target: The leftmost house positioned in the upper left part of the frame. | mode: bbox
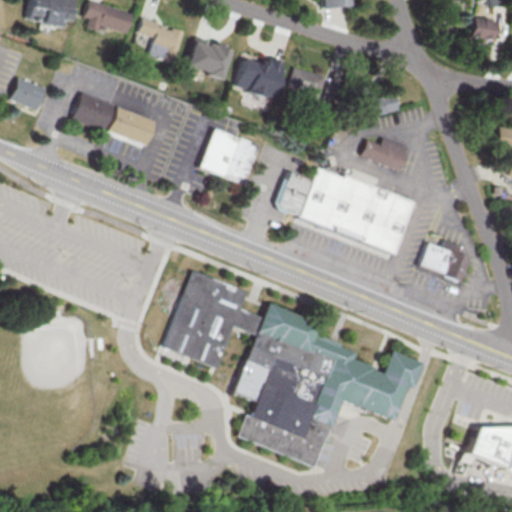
[10,78,46,112]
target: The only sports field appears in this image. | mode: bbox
[2,315,96,450]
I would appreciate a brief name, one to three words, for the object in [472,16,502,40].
house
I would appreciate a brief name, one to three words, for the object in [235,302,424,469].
building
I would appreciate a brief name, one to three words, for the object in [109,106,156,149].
building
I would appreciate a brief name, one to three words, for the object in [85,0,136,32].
house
